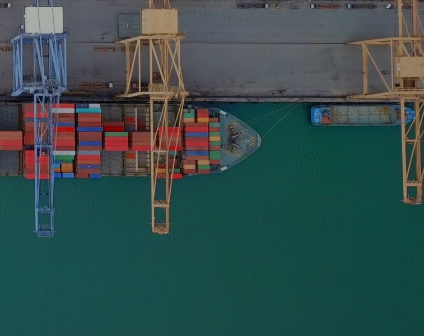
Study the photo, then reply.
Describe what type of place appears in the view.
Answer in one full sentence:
This image shows a port.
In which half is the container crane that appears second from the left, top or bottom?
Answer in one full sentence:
It is in the top half that the container crane that appears second from the left appears.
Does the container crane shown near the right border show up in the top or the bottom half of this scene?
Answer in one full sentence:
The top half of the photo is where the container crane shown near the right border is.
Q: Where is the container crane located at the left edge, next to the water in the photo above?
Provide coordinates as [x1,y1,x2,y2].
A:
[6,0,67,239]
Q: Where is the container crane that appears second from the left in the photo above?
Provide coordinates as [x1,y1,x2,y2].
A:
[113,0,187,234]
